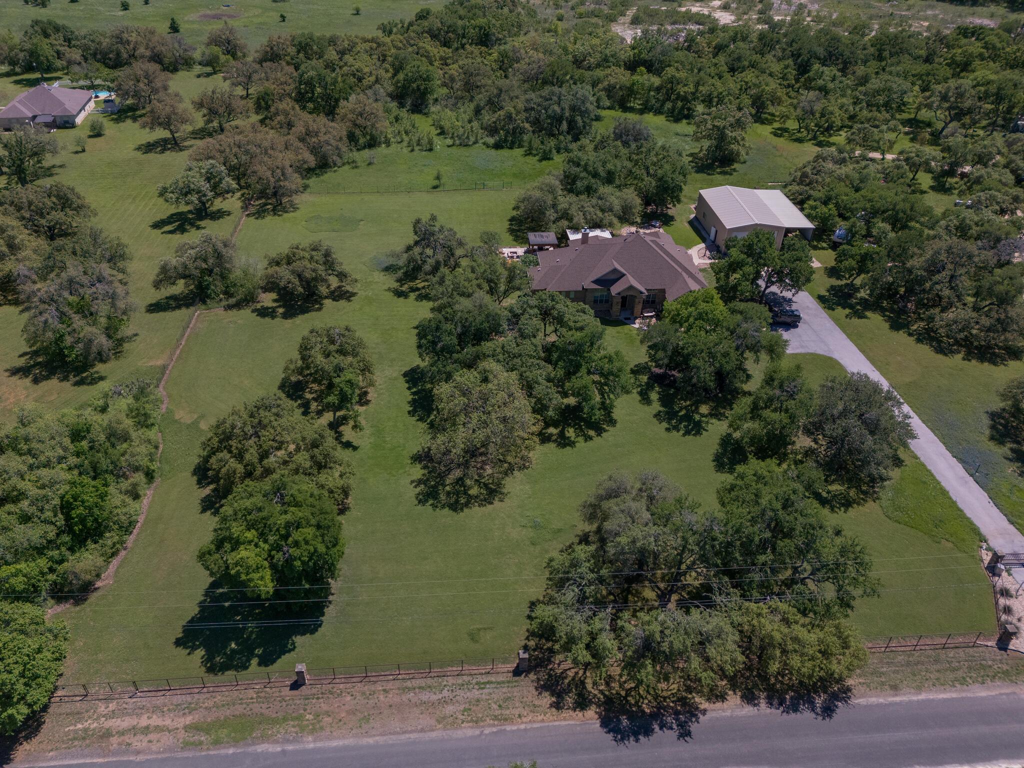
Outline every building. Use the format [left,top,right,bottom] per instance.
[697,186,816,253]
[527,225,707,323]
[0,81,93,132]
[102,97,122,111]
